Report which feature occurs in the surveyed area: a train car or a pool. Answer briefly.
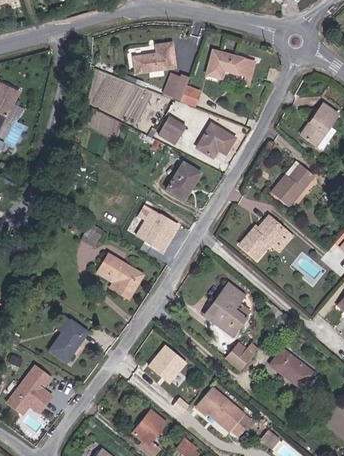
pool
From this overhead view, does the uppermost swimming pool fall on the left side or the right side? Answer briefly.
left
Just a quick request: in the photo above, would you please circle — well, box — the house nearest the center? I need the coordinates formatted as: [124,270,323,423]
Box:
[128,201,182,256]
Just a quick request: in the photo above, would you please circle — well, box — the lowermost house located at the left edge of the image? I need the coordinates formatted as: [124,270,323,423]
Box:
[6,364,55,414]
